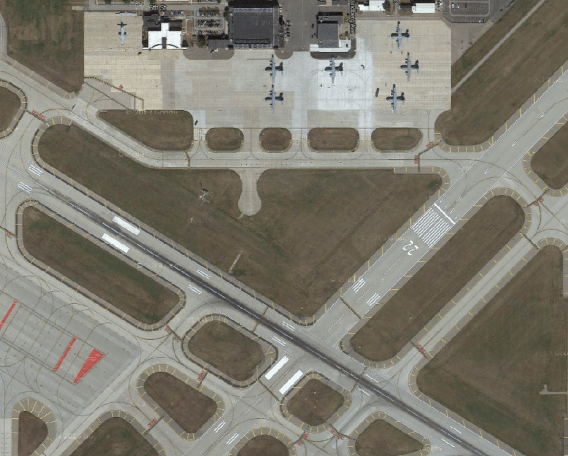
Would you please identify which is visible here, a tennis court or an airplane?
airplane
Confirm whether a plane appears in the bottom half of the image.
No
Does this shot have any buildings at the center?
No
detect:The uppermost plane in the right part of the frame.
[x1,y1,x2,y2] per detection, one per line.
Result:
[392,22,411,49]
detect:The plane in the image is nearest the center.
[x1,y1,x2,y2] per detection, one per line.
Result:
[265,85,284,112]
